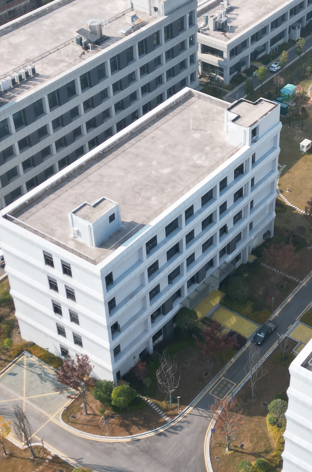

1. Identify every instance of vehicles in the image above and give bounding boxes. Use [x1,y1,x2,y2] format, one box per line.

[0,251,8,270]
[252,317,281,346]
[268,62,287,74]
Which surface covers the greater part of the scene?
buildings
